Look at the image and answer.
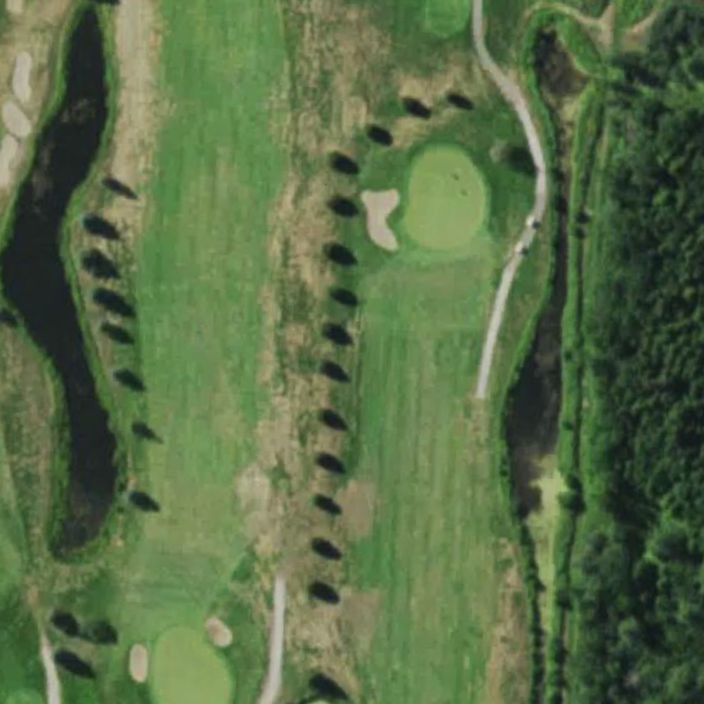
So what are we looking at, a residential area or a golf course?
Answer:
golf course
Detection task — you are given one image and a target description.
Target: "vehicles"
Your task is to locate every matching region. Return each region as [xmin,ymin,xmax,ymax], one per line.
[527,217,533,225]
[515,243,522,252]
